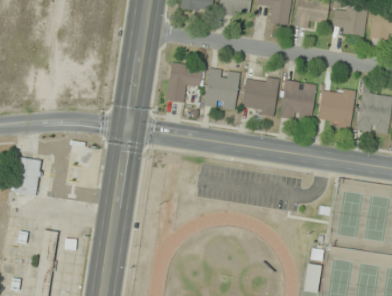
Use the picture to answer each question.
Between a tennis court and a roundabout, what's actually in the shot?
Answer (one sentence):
Of the two, only a tennis court appears.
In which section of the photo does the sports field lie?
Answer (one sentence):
The sports field is in the bottom part of the image.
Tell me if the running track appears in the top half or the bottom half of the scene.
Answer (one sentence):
The running track sits in the bottom half of the picture.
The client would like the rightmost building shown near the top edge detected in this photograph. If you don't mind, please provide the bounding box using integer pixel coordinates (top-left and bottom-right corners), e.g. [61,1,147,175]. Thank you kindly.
[370,14,392,44]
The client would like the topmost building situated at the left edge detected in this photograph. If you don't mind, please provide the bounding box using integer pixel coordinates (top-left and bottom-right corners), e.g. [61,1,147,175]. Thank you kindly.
[16,157,42,196]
